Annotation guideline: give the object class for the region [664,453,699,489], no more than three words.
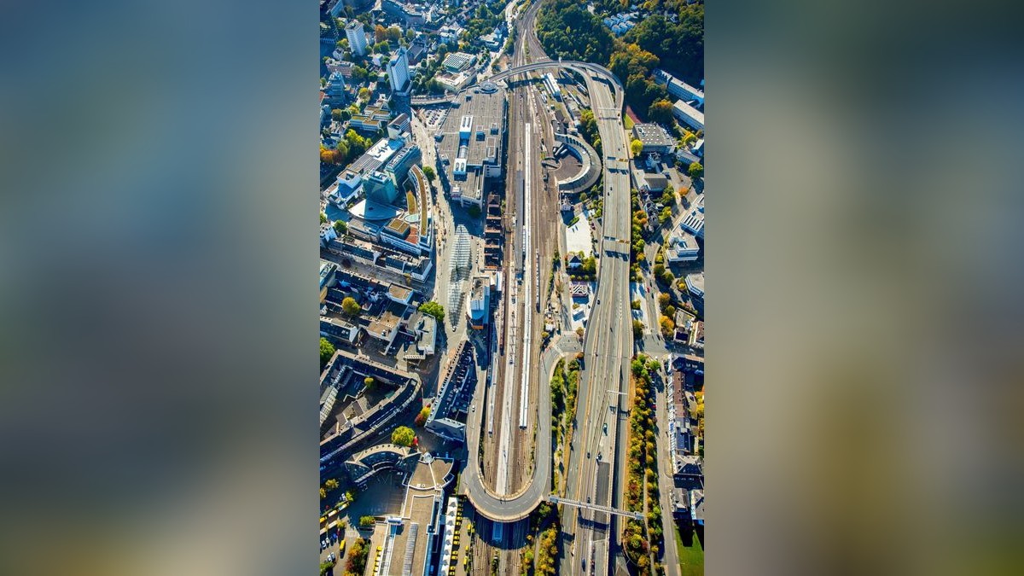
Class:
house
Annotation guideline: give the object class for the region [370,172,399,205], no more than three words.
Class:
building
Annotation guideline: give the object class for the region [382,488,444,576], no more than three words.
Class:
building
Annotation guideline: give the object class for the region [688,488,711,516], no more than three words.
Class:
house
